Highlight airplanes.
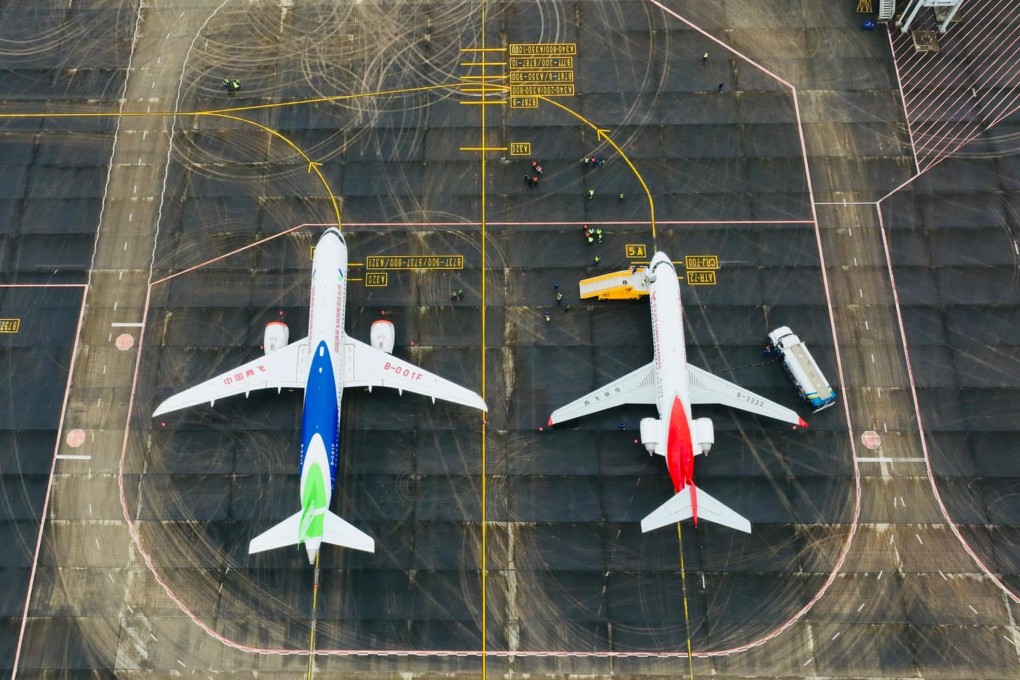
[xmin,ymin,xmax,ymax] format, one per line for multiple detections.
[152,228,488,564]
[550,251,808,533]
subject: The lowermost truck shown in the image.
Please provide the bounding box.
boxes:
[762,326,837,419]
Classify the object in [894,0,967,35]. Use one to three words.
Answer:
jet bridge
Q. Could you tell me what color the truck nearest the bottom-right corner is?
white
